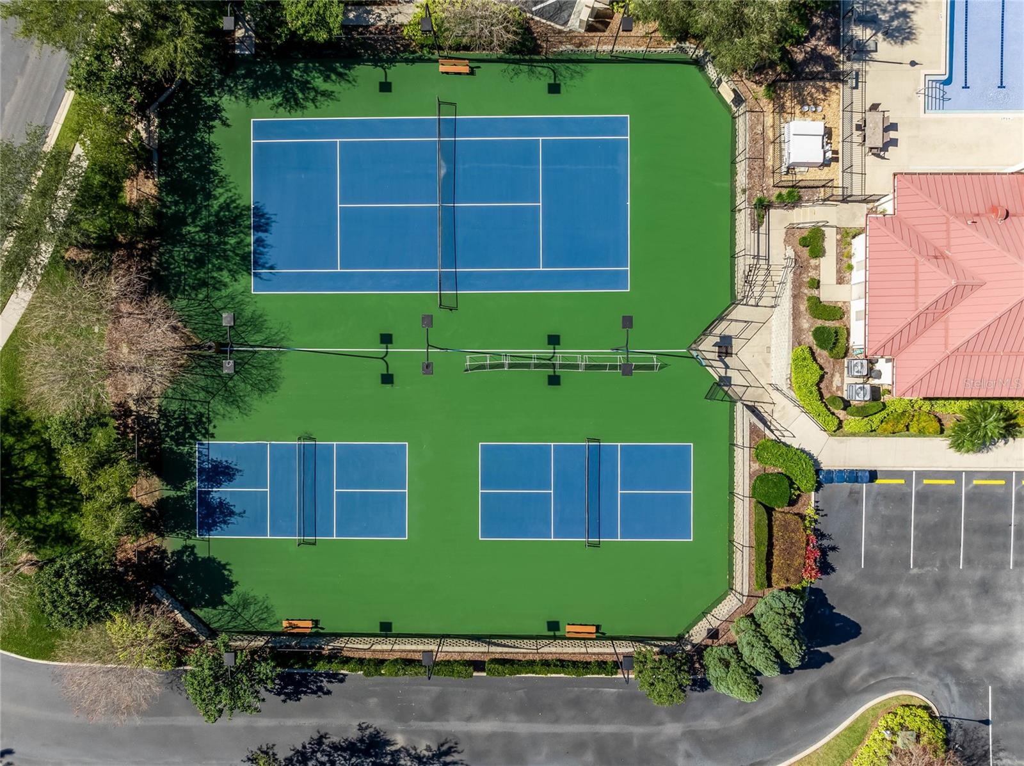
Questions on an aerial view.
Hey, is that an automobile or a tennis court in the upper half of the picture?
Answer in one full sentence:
The feature located in the upper half of the picture is a tennis court.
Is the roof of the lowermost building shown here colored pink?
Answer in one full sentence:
Yes, pink is the color of the roof of the lowermost building.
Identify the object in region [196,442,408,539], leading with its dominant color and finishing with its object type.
blue sports court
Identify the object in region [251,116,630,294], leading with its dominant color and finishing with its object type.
blue tennis court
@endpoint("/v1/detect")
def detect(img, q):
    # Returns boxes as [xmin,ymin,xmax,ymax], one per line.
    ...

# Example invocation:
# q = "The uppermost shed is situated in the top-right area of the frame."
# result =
[777,121,828,184]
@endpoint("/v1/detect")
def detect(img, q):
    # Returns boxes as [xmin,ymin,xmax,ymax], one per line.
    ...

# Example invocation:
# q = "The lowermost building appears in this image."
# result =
[852,159,1024,398]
